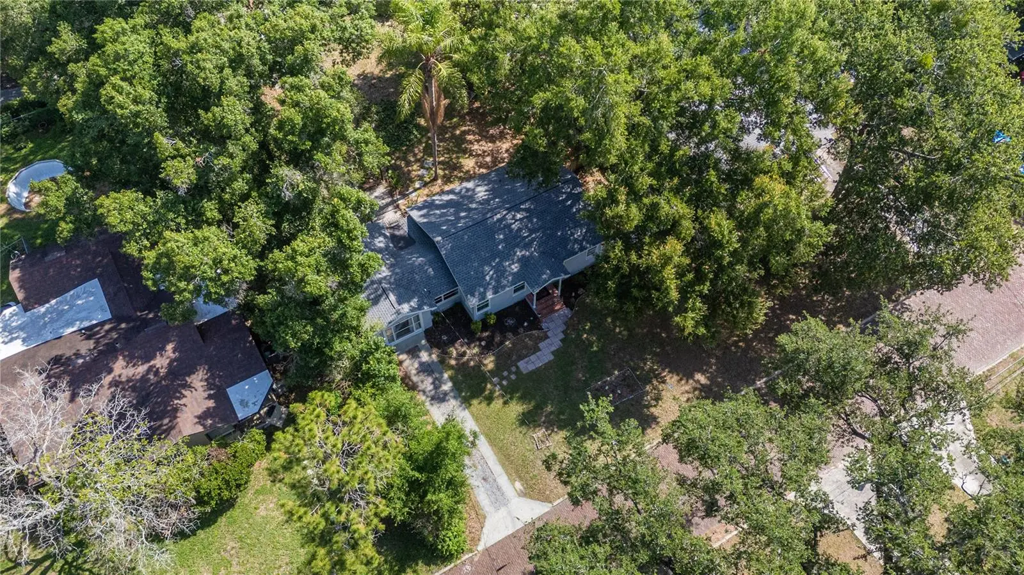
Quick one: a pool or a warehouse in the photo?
pool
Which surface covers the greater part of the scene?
trees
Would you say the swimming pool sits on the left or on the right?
left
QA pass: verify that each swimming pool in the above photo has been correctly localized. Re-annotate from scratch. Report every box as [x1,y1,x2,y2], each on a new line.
[3,157,70,209]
